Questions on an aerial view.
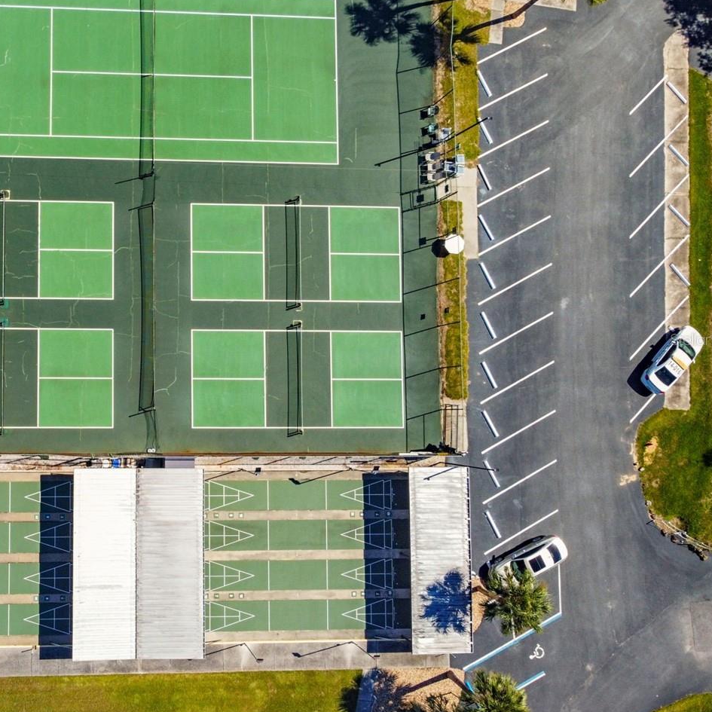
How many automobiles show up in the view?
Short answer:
two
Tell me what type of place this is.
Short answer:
sports ground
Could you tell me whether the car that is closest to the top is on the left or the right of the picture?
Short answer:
right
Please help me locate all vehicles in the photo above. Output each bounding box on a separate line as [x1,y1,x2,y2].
[491,534,567,583]
[643,327,701,394]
